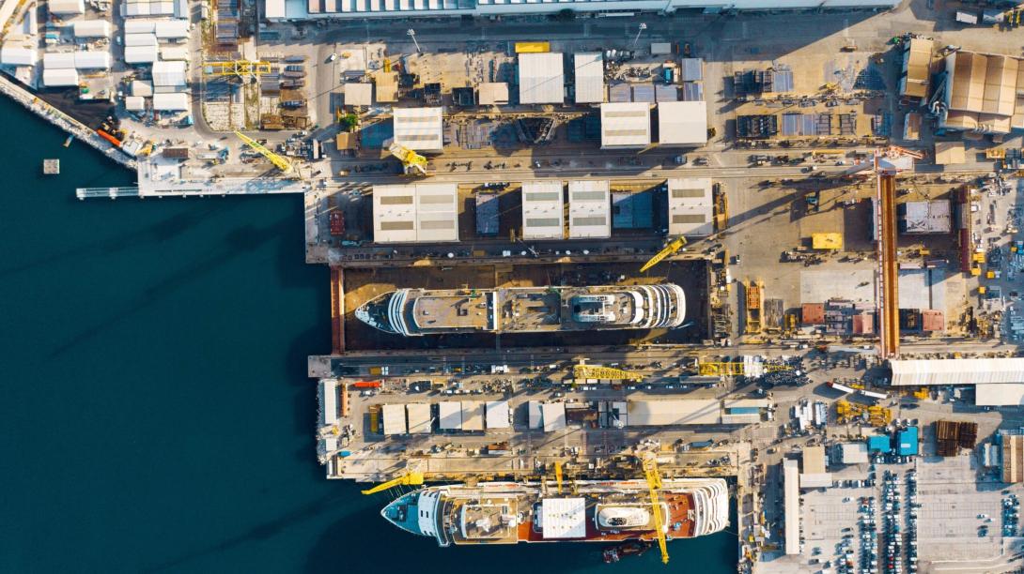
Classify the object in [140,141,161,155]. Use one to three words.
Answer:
work vehicle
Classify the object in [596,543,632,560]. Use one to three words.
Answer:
boat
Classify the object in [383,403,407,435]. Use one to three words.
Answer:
shed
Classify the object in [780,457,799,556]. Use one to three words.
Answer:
building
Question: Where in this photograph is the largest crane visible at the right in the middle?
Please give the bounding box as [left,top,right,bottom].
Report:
[814,149,900,358]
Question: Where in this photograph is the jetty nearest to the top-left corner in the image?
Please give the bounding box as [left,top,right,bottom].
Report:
[77,187,139,200]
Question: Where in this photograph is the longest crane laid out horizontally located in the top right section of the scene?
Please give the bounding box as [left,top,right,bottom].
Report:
[894,148,951,163]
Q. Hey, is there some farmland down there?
No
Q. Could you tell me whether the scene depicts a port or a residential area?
port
